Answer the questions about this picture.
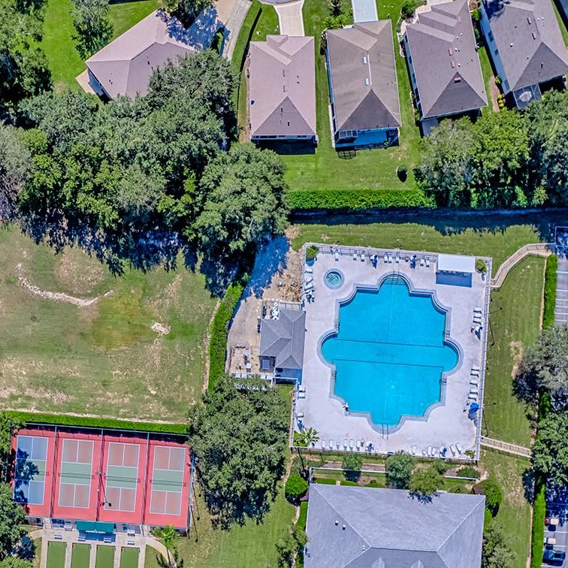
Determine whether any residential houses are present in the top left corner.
Yes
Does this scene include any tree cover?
Yes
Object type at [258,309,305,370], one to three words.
building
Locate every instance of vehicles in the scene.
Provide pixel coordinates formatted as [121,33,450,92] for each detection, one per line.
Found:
[548,537,557,545]
[549,519,560,525]
[546,549,568,560]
